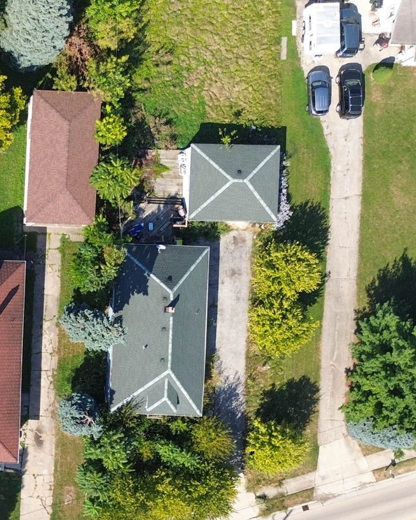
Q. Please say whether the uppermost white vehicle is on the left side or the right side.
right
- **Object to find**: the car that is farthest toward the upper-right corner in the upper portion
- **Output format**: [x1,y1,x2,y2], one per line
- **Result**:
[338,8,365,57]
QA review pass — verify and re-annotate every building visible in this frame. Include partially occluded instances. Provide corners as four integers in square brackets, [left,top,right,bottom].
[385,0,416,67]
[179,142,281,225]
[23,88,103,227]
[104,241,210,418]
[0,259,26,471]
